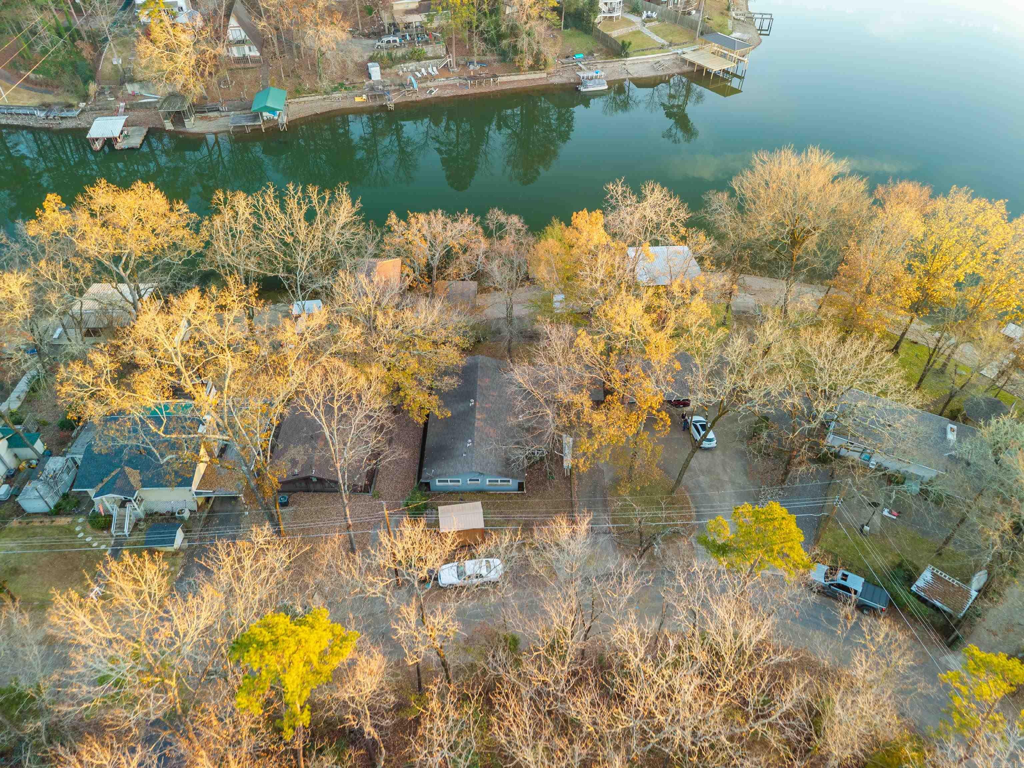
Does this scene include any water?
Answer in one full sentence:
Yes, there's water in this view.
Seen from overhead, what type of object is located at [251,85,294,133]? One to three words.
building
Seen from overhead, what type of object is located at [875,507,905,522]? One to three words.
work vehicle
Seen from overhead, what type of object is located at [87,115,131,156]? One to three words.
building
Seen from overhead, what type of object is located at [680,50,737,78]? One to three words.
pier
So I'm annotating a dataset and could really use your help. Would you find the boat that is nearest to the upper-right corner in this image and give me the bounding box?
[578,79,607,92]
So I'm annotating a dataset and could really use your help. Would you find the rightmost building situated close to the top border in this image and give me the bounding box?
[700,29,754,73]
